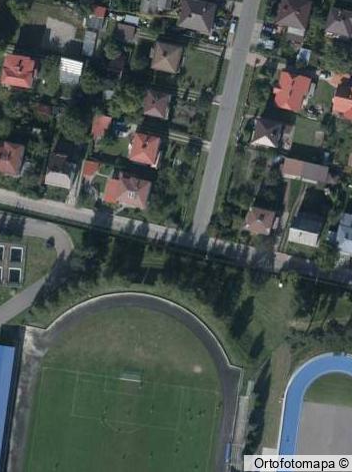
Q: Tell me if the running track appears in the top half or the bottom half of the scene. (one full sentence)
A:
The running track sits in the bottom half of the picture.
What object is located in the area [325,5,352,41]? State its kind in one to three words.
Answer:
house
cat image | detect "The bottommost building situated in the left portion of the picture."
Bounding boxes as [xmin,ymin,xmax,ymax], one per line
[103,174,152,212]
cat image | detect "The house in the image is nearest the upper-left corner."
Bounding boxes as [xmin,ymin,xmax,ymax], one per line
[1,54,38,91]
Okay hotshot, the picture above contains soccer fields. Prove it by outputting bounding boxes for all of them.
[27,306,225,472]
